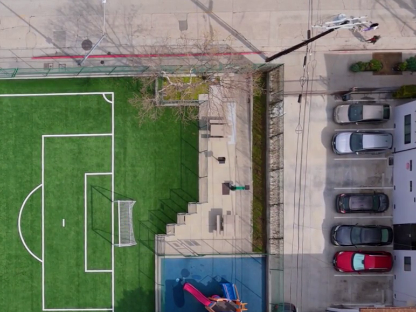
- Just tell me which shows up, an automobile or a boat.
automobile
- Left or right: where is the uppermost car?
right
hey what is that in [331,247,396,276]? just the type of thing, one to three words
car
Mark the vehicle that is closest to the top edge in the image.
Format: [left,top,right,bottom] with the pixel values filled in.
[331,100,392,125]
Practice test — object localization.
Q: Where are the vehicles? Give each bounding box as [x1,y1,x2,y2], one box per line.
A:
[328,221,393,248]
[333,190,389,216]
[331,247,396,276]
[331,100,392,125]
[330,128,396,157]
